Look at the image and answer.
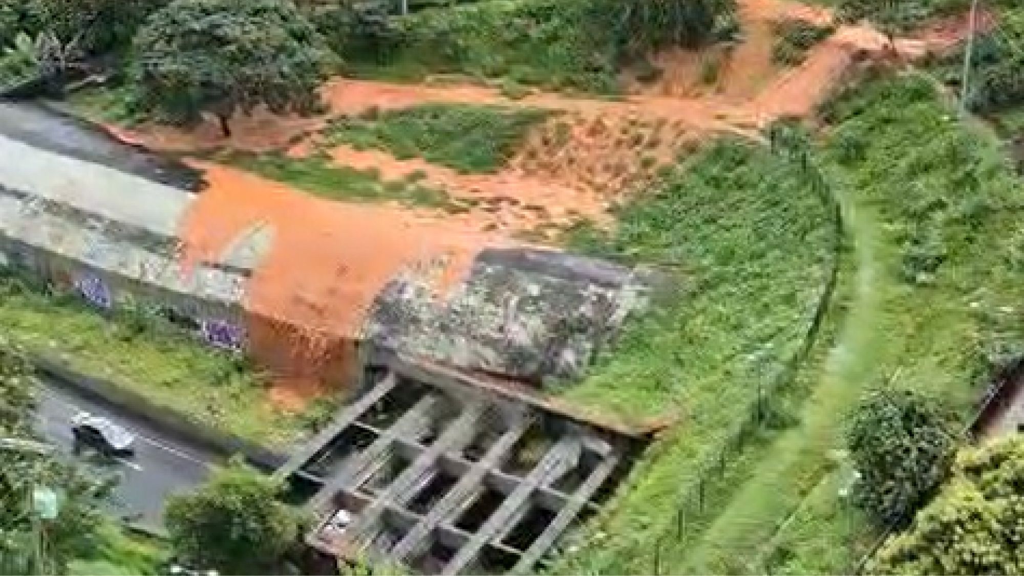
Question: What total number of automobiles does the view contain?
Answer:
1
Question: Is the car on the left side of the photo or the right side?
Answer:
left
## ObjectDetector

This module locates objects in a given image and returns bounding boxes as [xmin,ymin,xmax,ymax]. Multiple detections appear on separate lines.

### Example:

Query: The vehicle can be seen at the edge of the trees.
[70,408,135,450]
